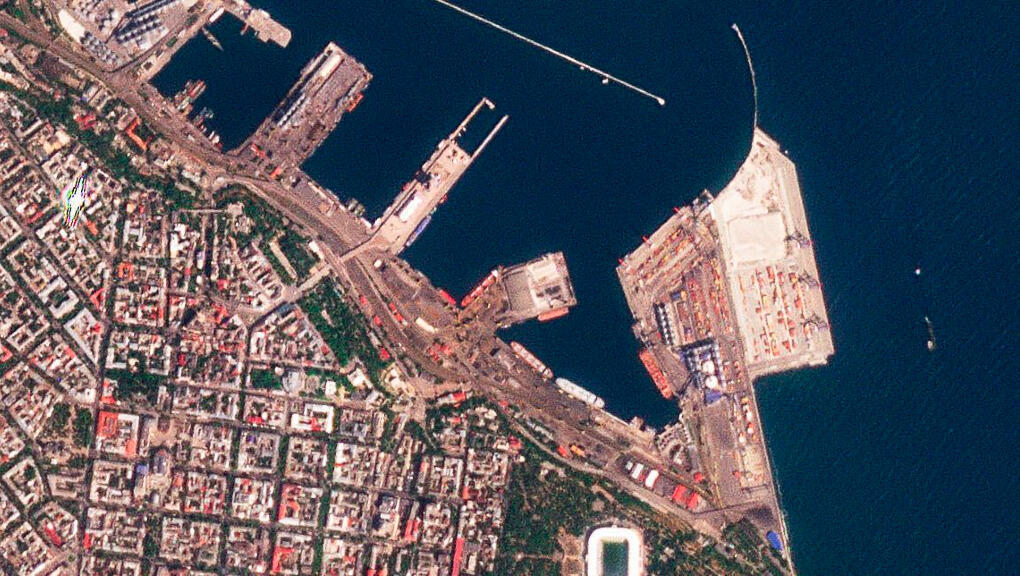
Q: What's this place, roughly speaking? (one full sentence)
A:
The area seen from above is a port.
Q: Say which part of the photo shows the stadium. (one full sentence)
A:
You can find the stadium in the bottom area of the picture.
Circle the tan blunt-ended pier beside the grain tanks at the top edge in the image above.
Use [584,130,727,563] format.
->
[227,0,291,47]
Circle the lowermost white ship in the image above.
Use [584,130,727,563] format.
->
[557,380,607,409]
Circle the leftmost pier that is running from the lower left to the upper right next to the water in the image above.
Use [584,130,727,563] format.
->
[223,41,372,183]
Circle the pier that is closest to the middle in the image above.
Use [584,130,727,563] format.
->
[458,251,579,334]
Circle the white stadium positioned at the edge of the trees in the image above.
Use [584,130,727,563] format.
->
[586,525,641,576]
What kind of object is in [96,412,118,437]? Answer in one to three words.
building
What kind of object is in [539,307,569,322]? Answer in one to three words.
ship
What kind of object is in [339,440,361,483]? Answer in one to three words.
building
